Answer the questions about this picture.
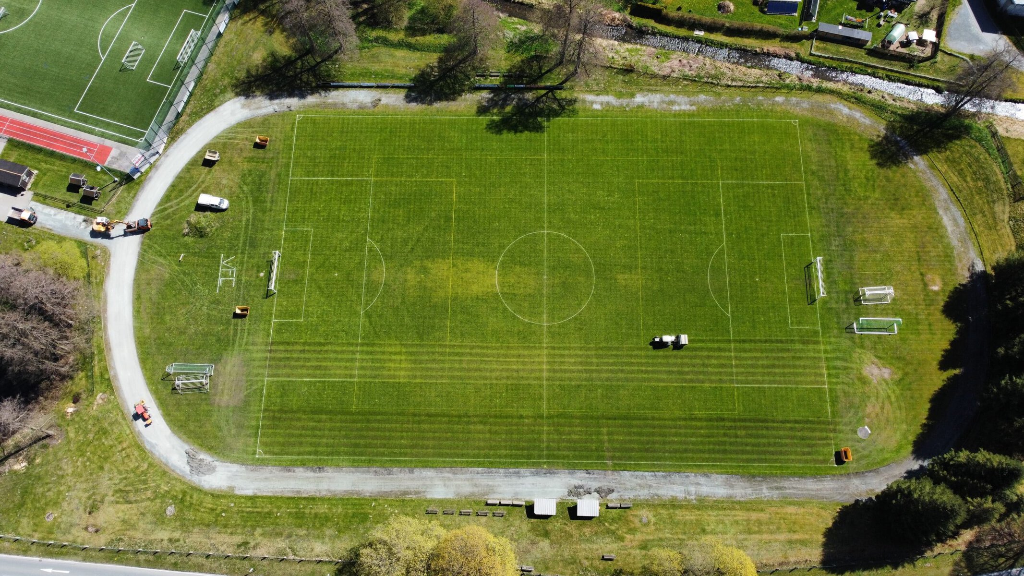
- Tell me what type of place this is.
sports ground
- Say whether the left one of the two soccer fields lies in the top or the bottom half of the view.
top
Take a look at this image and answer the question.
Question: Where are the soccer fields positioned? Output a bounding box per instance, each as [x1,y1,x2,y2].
[0,0,223,150]
[241,111,887,479]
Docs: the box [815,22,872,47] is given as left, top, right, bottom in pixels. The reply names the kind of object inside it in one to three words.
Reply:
shed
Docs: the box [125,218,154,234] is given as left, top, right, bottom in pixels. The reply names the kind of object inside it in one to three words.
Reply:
vehicle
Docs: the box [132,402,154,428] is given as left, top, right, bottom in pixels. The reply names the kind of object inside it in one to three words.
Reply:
work vehicle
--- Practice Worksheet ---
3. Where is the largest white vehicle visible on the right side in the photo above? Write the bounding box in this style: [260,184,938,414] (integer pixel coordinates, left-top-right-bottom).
[655,334,677,347]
